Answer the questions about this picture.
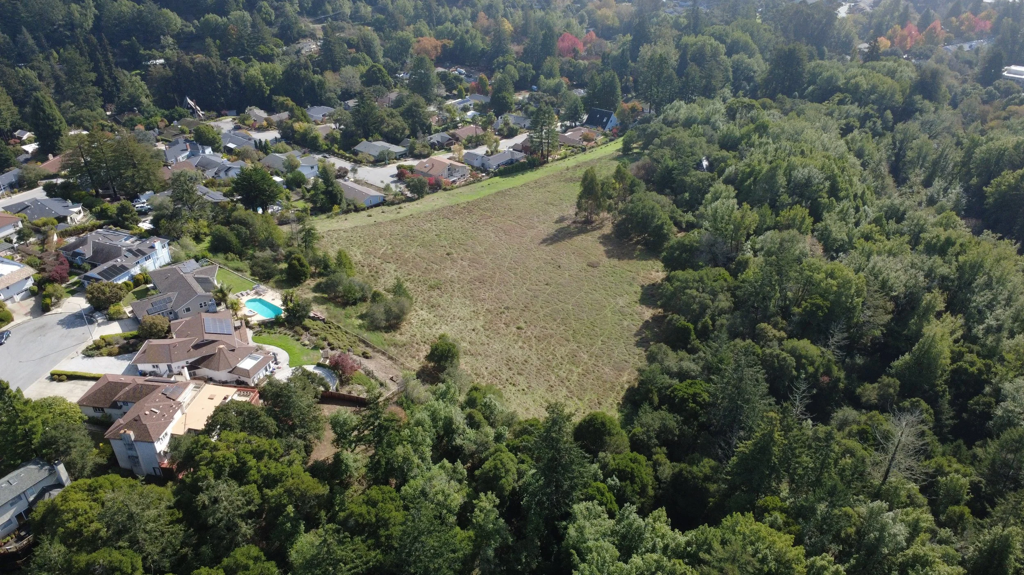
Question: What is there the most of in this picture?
trees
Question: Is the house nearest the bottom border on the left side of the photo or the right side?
left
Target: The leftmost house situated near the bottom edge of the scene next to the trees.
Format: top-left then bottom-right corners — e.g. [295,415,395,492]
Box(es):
[0,455,73,550]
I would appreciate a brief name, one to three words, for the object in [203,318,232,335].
solar panel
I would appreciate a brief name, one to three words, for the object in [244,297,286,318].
swimming pool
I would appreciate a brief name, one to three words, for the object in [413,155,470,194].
house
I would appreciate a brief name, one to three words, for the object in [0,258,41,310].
house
